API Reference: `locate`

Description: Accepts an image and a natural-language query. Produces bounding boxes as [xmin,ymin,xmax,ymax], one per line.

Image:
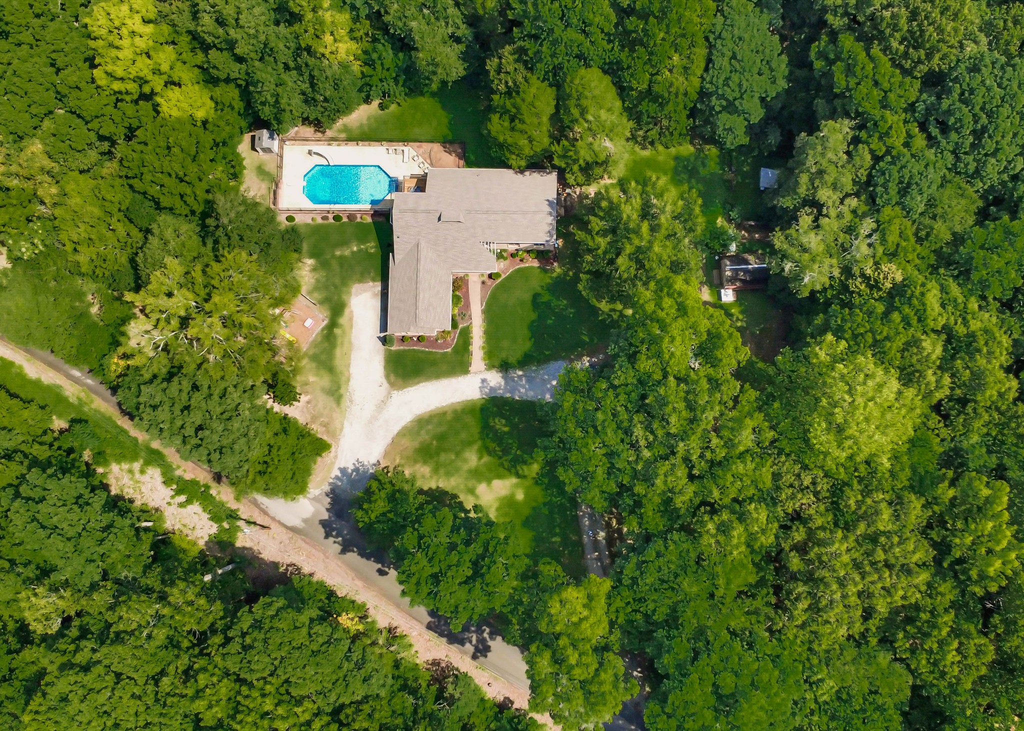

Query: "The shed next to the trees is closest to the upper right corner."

[755,169,778,195]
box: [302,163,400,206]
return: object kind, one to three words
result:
swimming pool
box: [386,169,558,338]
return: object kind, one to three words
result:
house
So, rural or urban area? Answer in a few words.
rural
